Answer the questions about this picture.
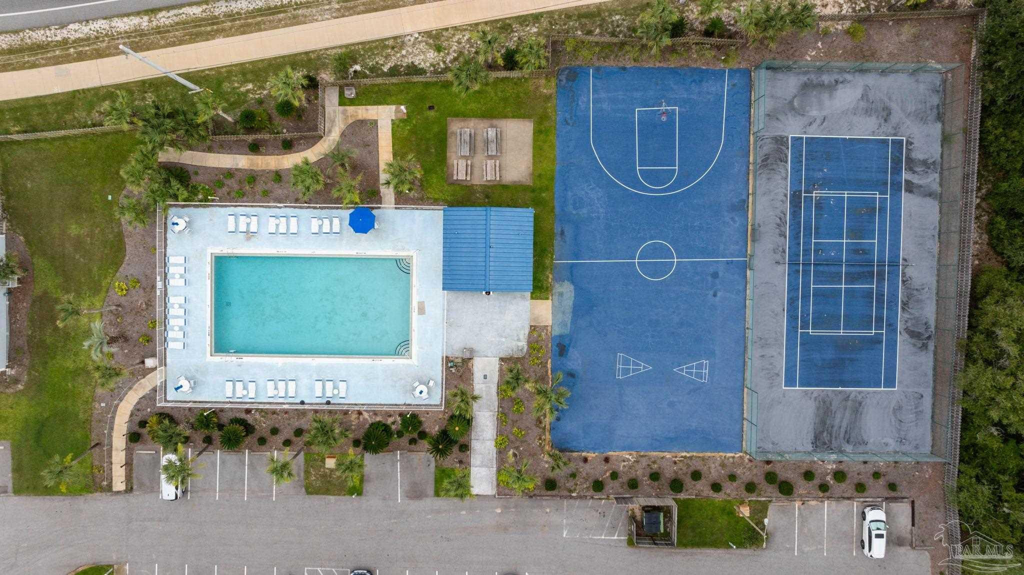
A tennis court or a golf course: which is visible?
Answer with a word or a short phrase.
tennis court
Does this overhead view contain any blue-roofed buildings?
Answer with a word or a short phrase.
Yes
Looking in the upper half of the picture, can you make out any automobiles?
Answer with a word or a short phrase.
No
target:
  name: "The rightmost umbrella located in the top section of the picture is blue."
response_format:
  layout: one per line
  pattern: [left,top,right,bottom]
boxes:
[348,207,375,234]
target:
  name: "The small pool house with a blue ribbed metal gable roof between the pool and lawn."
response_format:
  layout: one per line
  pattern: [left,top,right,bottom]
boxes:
[441,208,535,296]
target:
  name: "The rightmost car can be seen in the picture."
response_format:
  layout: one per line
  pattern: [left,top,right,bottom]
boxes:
[859,507,889,559]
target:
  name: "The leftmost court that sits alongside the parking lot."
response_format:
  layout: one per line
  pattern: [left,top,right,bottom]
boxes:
[550,66,751,453]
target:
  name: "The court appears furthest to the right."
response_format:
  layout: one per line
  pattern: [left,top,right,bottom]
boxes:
[745,69,944,454]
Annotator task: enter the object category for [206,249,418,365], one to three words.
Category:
swimming pool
